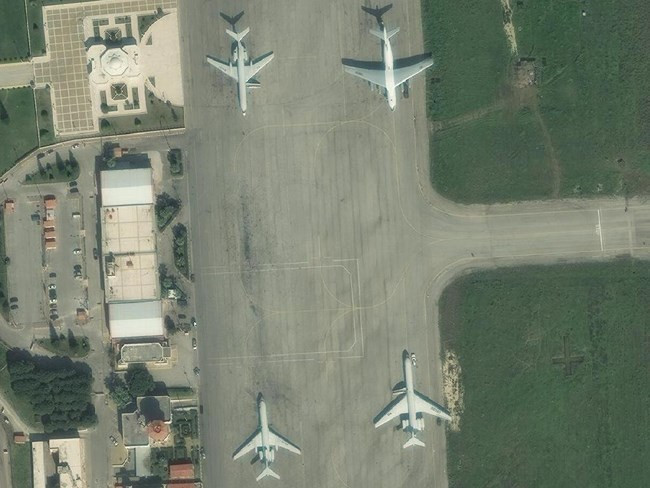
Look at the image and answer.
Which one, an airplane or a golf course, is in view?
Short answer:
airplane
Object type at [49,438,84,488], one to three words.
building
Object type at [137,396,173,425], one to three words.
building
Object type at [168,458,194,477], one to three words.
house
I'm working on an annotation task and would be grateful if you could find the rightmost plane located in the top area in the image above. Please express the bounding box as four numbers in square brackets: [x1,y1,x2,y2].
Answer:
[345,26,432,110]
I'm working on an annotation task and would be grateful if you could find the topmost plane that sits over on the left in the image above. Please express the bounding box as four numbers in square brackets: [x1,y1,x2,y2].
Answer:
[208,30,273,115]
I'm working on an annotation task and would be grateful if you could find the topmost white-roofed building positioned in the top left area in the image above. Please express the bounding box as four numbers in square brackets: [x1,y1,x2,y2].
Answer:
[88,44,143,86]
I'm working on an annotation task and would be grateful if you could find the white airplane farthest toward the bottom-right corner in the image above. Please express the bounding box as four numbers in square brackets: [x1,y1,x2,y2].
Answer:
[376,357,451,447]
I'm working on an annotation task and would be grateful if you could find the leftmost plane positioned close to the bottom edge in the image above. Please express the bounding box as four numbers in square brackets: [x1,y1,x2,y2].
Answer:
[234,399,300,480]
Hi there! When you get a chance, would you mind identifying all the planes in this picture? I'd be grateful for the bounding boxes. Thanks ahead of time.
[376,357,451,447]
[234,399,300,480]
[345,26,432,110]
[208,30,273,115]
